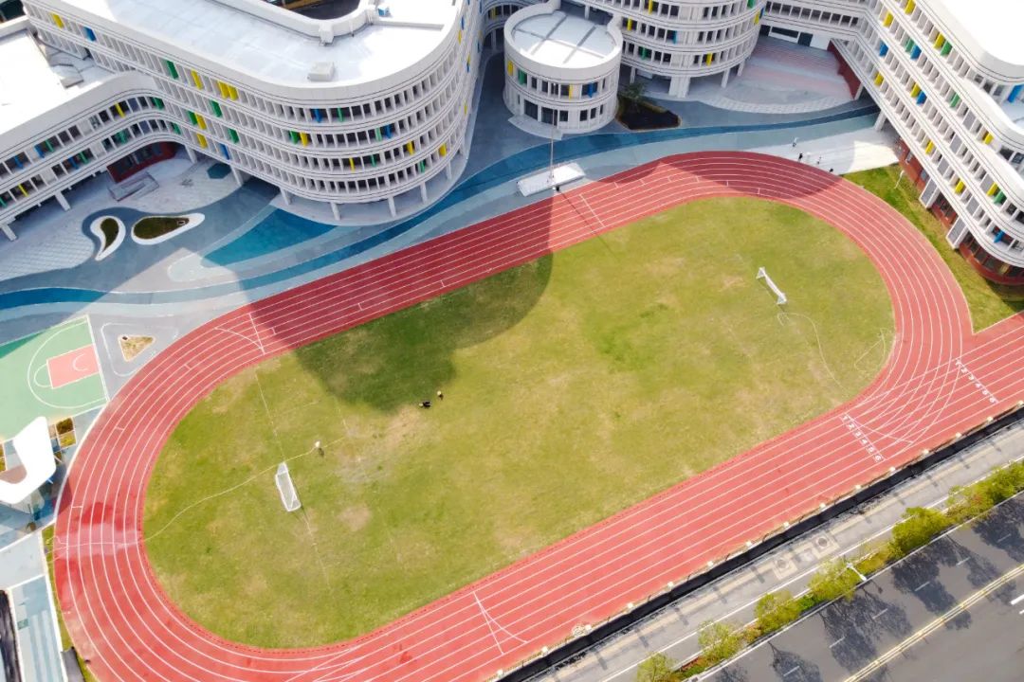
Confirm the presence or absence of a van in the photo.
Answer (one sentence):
No, there appears to be no van in this shot.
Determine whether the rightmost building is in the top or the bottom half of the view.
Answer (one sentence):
The top half of the photo is where the rightmost building is.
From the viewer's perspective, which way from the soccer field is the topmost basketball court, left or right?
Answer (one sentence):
To the left of the soccer field is where the topmost basketball court appears.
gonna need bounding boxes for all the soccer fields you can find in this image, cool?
[144,196,897,651]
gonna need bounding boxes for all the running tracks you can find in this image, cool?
[54,151,1024,682]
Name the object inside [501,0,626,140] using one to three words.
building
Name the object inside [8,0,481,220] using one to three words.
building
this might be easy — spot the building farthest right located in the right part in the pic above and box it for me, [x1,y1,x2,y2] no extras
[834,0,1024,288]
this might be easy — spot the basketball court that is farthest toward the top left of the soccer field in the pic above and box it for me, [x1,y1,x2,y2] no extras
[0,314,107,442]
